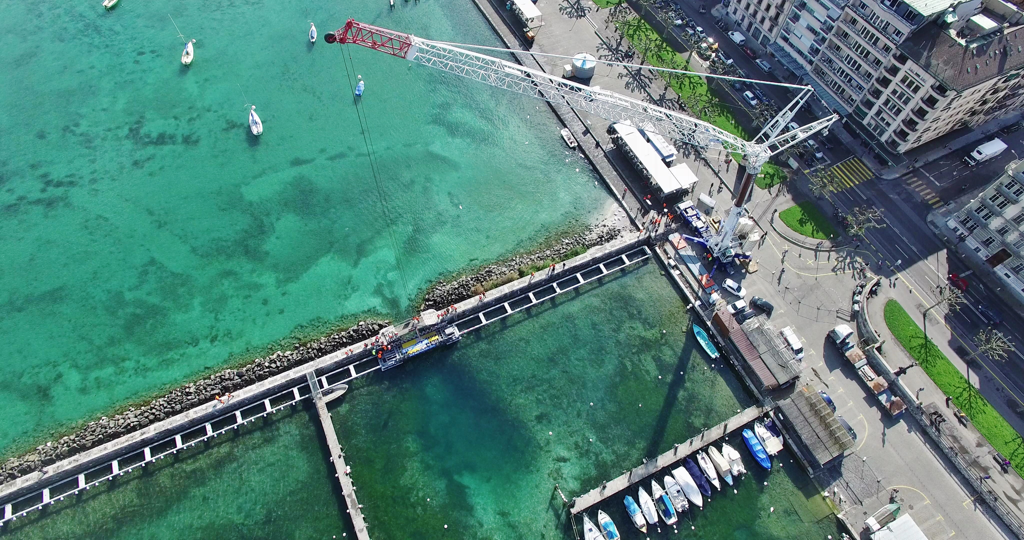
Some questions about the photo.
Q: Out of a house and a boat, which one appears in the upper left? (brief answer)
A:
boat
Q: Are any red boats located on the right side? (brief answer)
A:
No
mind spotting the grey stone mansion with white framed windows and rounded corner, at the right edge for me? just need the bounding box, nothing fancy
[948,153,1024,303]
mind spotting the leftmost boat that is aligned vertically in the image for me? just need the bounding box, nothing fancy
[173,21,194,70]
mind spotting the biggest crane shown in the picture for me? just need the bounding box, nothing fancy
[327,11,840,330]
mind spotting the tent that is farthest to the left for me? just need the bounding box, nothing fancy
[514,0,542,28]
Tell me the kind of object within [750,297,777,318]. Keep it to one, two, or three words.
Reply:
car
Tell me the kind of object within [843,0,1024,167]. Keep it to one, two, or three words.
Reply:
building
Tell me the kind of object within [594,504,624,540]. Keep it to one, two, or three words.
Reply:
boat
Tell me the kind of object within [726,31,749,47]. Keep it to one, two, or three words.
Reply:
vehicle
